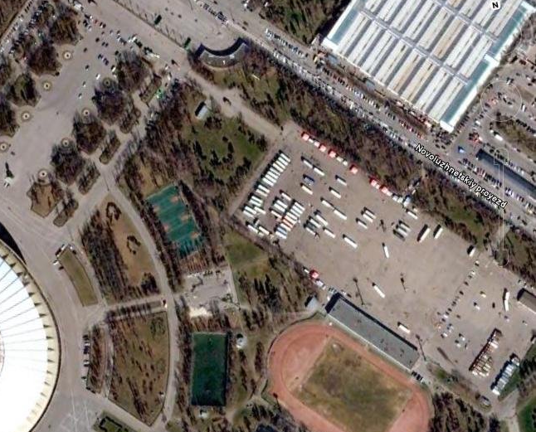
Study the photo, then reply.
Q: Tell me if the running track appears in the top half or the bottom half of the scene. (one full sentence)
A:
The bottom half of the photo is where the running track is.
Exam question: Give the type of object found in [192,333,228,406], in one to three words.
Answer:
sports field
